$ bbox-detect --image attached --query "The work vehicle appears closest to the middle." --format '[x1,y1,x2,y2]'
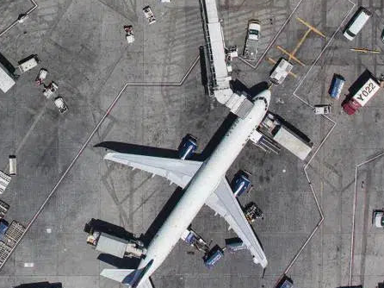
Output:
[253,130,282,154]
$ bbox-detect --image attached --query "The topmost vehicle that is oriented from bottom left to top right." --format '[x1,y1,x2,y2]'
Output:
[345,4,372,39]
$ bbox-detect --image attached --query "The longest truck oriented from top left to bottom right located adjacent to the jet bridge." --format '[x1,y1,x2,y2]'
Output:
[265,114,316,158]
